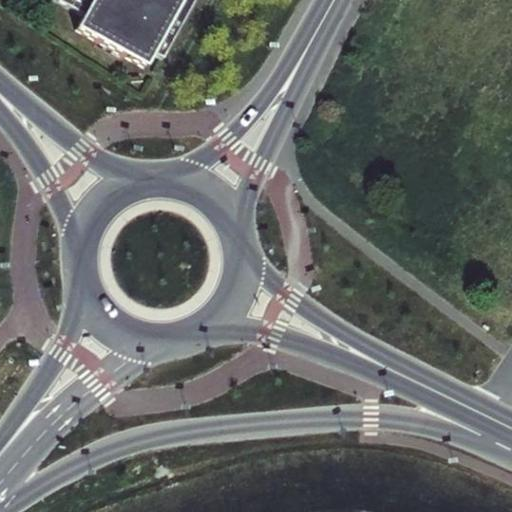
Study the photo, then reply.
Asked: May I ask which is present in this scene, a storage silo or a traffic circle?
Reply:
traffic circle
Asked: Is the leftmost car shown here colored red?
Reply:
No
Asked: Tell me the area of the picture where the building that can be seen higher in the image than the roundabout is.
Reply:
top left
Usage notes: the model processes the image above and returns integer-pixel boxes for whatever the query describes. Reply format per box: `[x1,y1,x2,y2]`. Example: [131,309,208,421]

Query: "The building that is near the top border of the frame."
[54,0,204,72]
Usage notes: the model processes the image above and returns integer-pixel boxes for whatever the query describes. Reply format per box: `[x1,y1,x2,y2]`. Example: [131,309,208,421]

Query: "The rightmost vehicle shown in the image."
[241,106,258,128]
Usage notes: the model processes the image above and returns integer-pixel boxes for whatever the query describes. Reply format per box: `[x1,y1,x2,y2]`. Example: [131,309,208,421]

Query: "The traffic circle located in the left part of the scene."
[40,132,288,388]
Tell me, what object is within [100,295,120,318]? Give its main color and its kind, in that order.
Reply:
white car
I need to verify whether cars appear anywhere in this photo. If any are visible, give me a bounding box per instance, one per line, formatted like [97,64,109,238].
[241,106,258,128]
[100,295,120,318]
